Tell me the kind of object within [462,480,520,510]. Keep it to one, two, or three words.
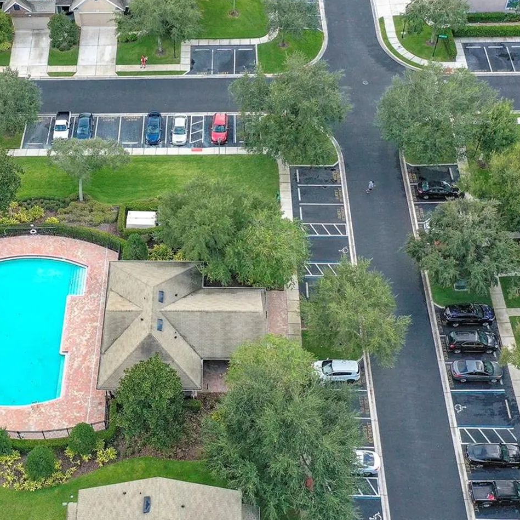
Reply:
truck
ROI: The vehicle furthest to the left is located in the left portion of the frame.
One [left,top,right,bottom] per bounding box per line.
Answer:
[51,111,73,145]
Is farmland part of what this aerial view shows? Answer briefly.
No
